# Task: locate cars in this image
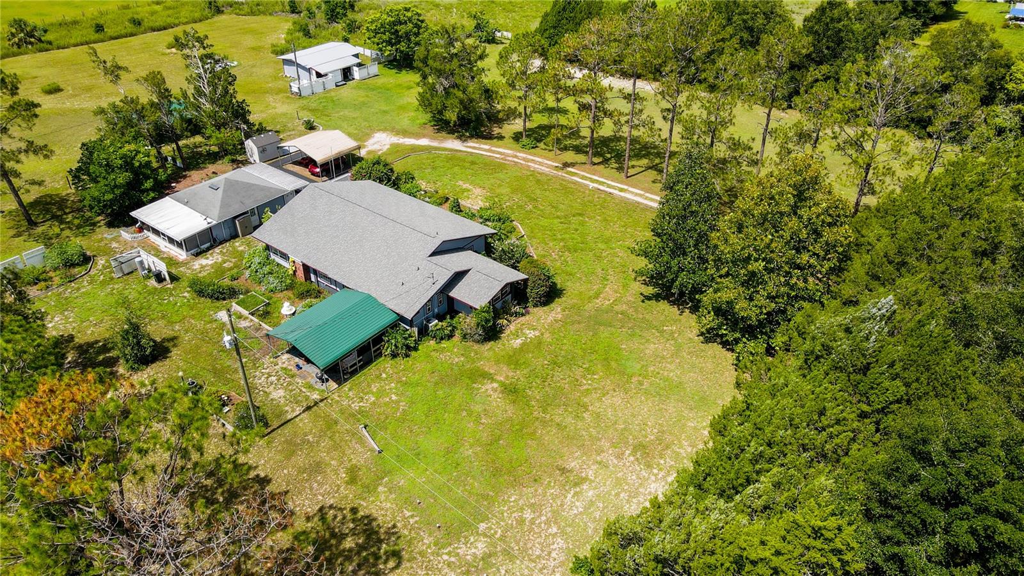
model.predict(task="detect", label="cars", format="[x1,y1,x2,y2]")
[309,157,346,176]
[298,153,315,165]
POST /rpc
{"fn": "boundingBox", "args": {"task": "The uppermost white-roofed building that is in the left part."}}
[275,42,363,83]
